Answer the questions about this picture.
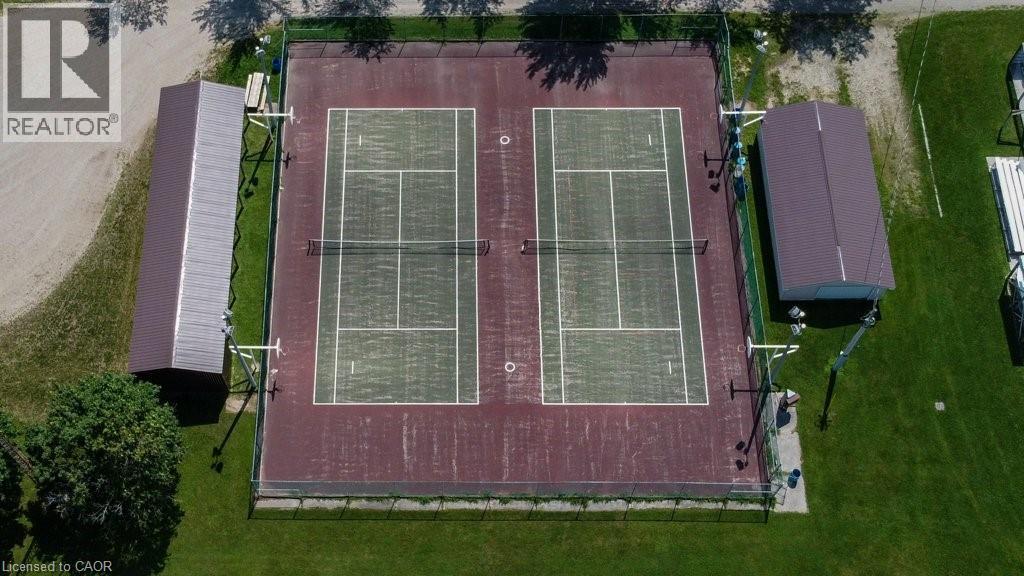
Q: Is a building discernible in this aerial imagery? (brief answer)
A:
Yes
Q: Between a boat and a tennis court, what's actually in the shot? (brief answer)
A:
tennis court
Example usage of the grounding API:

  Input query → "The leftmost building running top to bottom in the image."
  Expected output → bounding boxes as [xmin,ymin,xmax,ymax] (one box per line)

[126,80,250,392]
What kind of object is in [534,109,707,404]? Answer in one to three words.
tennis court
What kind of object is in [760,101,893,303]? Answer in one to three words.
shed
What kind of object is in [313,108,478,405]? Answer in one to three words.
tennis court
